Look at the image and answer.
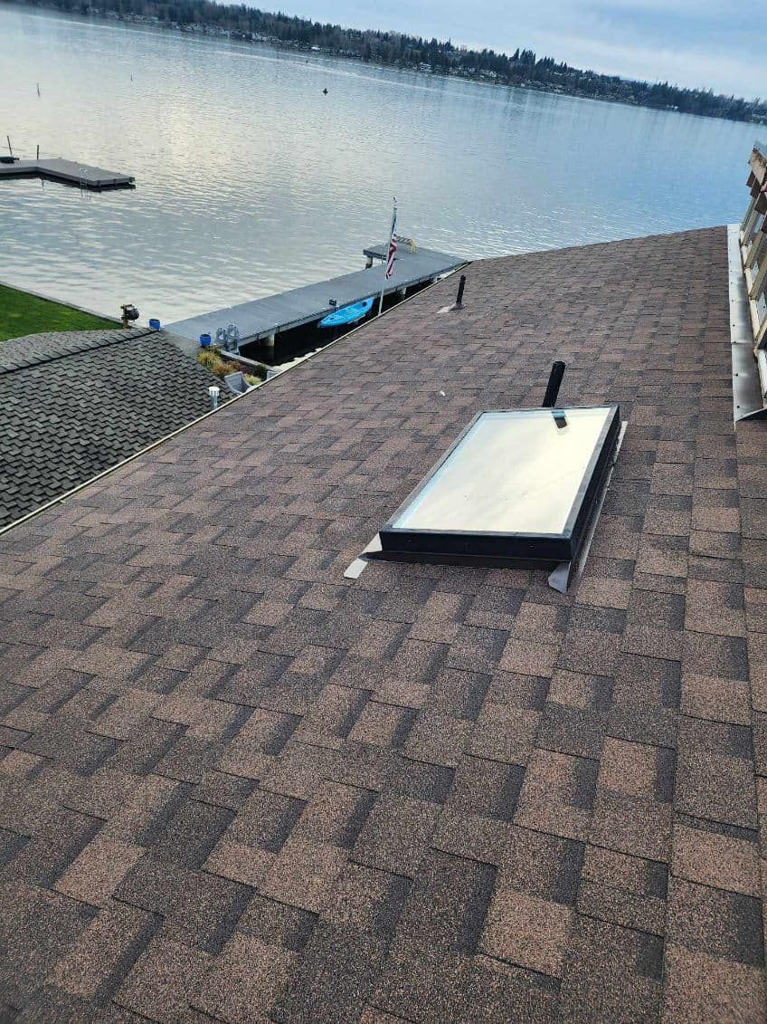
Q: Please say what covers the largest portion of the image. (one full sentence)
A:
What you mostly see from above here is buildings.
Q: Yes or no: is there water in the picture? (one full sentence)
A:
Yes, there's water in this view.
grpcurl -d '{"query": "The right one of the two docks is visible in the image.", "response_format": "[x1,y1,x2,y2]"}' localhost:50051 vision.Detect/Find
[160,241,473,358]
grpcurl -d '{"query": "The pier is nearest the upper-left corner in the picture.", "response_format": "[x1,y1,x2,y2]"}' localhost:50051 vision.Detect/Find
[0,159,130,190]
